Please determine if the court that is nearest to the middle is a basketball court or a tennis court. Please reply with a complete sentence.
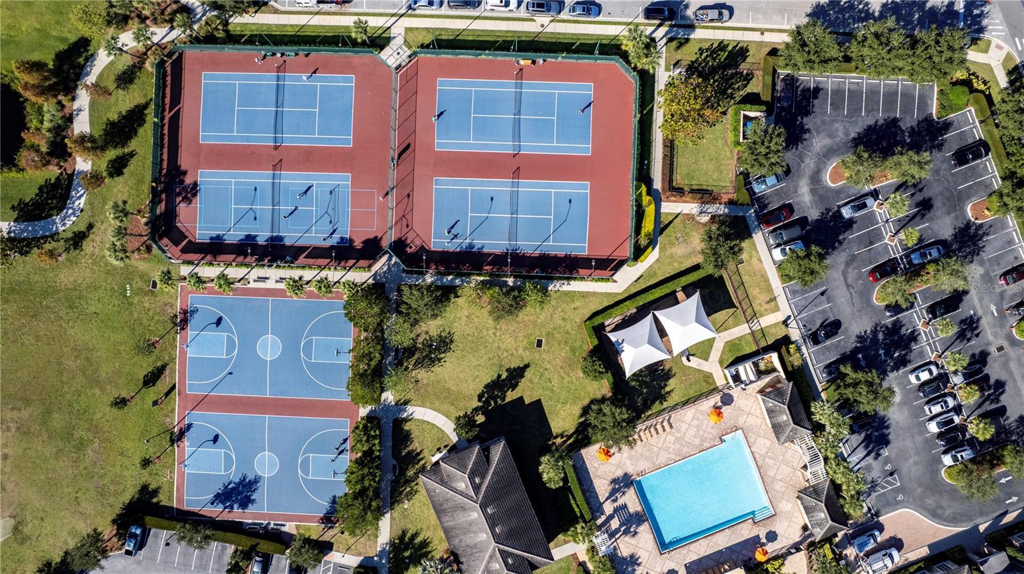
The court that is nearest to the middle in the image is a tennis court.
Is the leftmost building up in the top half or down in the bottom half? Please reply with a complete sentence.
Seen from above, the leftmost building lies in the bottom half of the view.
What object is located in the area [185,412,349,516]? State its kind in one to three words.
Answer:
basketball court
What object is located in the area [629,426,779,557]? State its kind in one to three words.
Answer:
swimming pool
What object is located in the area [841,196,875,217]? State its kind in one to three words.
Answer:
car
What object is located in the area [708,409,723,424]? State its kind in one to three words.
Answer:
umbrella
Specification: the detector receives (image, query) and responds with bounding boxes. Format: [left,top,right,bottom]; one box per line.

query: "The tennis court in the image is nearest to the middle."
[432,178,590,254]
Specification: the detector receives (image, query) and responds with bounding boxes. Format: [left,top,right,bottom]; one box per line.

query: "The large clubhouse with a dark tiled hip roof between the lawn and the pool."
[419,431,554,574]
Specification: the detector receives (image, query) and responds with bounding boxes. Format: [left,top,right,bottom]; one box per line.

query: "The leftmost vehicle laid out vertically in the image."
[123,522,145,560]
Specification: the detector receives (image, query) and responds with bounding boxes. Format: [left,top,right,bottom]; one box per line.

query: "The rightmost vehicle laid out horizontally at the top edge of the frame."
[692,8,729,24]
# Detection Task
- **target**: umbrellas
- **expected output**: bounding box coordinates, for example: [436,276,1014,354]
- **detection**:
[597,448,612,462]
[754,546,769,562]
[708,409,723,424]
